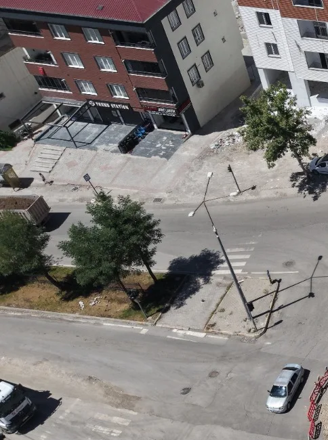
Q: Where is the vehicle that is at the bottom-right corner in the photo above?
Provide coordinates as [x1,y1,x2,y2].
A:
[261,361,309,416]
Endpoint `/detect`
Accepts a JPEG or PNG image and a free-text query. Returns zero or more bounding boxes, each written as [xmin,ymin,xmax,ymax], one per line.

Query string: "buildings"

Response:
[0,0,254,133]
[237,0,328,102]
